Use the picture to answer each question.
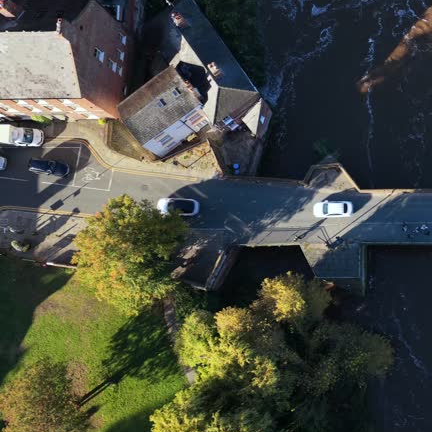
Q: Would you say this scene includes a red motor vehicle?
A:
No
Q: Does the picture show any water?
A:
Yes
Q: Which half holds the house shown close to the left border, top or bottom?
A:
top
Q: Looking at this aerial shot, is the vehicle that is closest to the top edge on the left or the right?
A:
left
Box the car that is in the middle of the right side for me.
[314,199,353,218]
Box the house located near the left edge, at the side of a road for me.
[0,0,132,122]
